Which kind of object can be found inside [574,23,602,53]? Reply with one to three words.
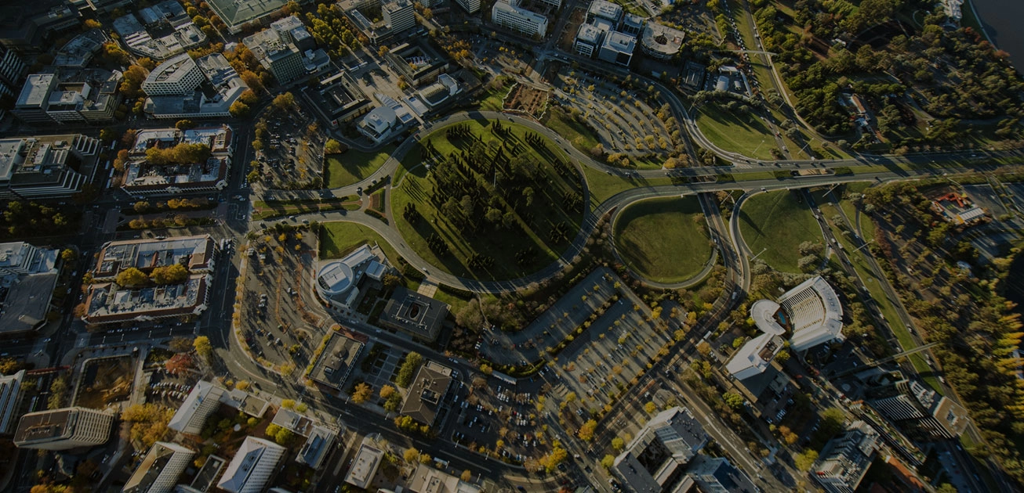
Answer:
building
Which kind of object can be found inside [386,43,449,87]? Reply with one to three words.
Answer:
building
